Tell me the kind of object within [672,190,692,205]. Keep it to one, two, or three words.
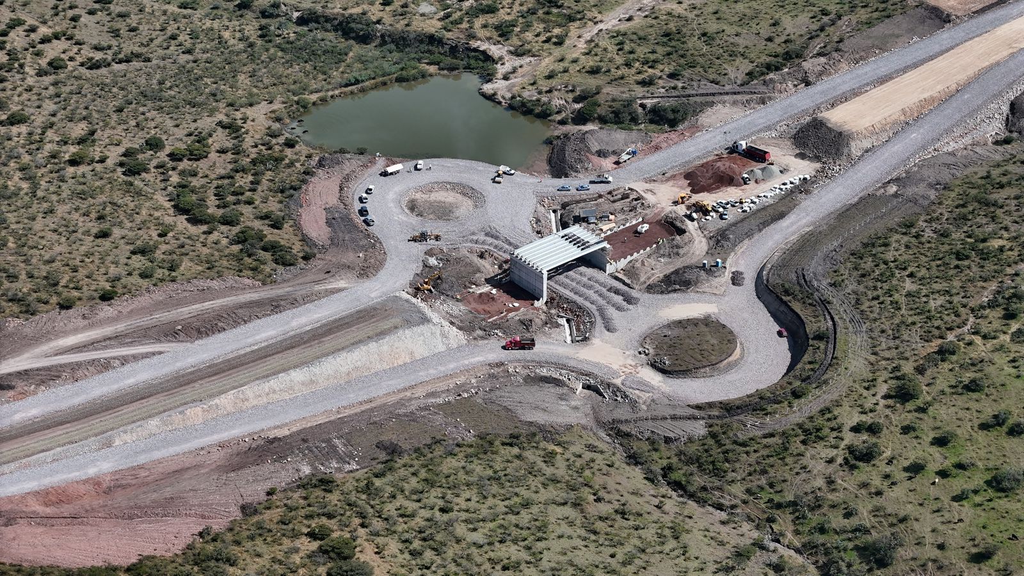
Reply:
work vehicle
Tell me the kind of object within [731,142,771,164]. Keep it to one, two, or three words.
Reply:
truck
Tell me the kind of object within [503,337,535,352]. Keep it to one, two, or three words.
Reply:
vehicle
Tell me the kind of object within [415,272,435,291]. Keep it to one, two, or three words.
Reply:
work vehicle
